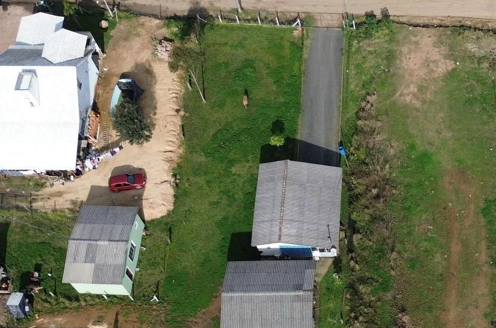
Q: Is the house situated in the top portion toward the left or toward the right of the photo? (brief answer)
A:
left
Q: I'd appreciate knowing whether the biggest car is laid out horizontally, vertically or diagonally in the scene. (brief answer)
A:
horizontally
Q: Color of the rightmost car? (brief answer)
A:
red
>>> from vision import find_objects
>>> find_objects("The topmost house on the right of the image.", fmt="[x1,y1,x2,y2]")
[252,160,343,261]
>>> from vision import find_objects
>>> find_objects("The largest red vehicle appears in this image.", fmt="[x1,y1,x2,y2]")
[105,173,145,193]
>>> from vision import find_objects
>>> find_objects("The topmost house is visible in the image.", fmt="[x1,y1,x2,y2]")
[0,12,106,180]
